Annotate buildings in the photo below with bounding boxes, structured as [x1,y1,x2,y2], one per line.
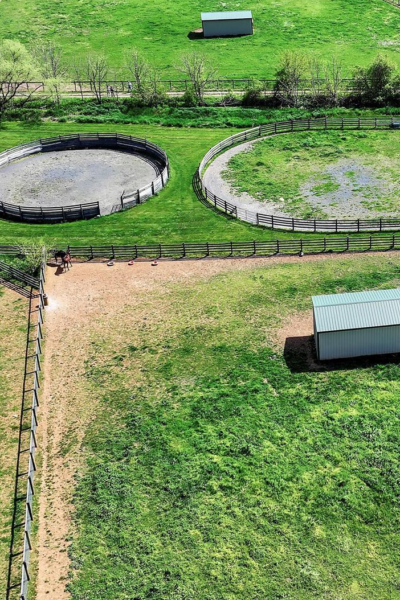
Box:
[311,294,400,361]
[201,11,253,36]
